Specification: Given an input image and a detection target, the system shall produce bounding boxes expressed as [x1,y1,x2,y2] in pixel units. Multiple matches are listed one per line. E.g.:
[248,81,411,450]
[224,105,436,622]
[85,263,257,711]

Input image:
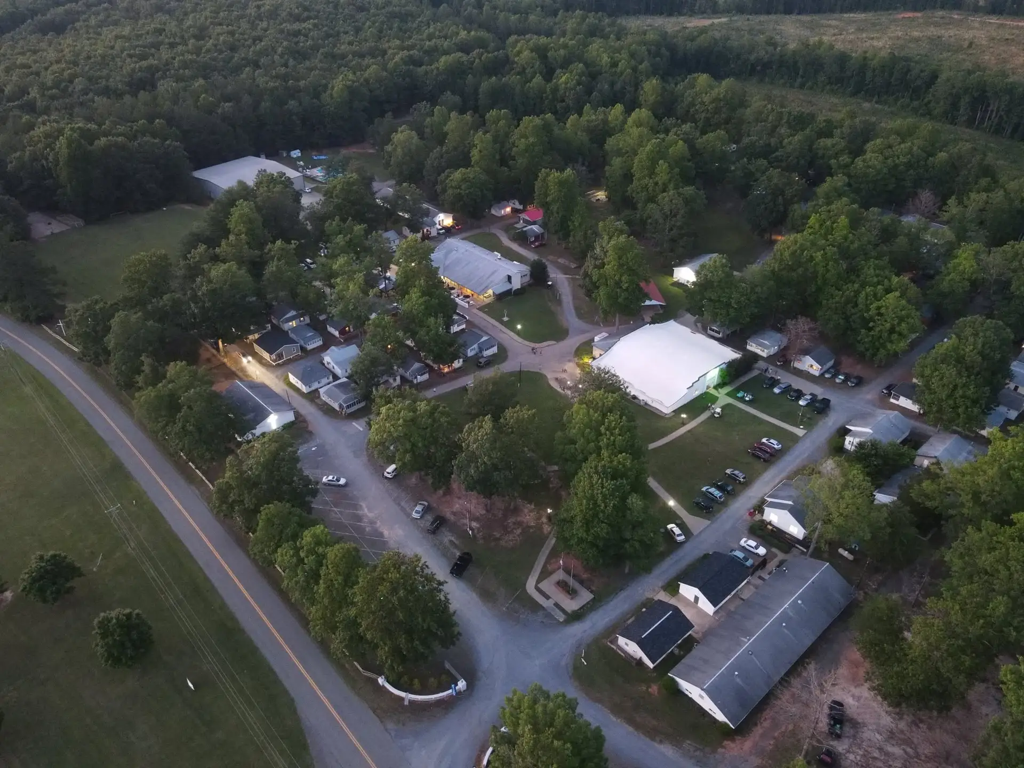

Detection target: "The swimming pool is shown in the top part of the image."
[302,165,331,183]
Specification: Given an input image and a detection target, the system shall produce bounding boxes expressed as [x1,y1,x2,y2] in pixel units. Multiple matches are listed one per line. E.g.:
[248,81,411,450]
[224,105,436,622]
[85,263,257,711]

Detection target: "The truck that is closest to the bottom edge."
[814,738,842,768]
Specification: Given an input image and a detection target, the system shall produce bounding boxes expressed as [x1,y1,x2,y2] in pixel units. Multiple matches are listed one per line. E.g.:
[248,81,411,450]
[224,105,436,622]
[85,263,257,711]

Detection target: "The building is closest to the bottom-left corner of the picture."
[225,376,296,433]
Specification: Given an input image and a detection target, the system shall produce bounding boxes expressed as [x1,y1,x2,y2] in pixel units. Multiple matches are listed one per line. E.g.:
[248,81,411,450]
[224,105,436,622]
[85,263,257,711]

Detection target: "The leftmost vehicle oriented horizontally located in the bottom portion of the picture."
[321,475,348,487]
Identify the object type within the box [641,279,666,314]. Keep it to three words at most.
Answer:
building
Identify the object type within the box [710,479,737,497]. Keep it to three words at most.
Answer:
car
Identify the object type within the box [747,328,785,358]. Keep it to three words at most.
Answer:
house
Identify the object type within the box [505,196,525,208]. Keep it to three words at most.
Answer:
vehicle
